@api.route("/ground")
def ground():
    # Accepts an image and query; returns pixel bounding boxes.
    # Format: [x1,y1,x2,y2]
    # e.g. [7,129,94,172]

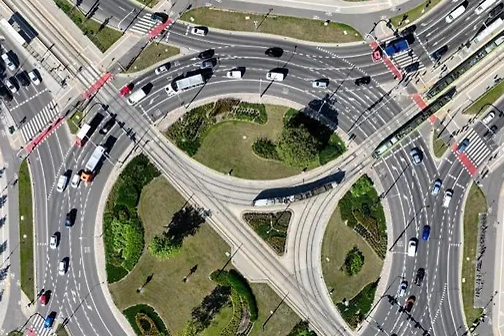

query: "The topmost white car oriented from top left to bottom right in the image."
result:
[2,55,16,69]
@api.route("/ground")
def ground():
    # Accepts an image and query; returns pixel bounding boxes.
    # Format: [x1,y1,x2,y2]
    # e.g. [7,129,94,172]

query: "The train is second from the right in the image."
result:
[373,86,460,156]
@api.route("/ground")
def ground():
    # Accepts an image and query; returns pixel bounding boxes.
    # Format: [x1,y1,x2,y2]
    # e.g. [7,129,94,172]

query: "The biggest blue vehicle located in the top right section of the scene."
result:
[382,35,413,57]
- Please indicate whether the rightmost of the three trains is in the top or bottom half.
top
